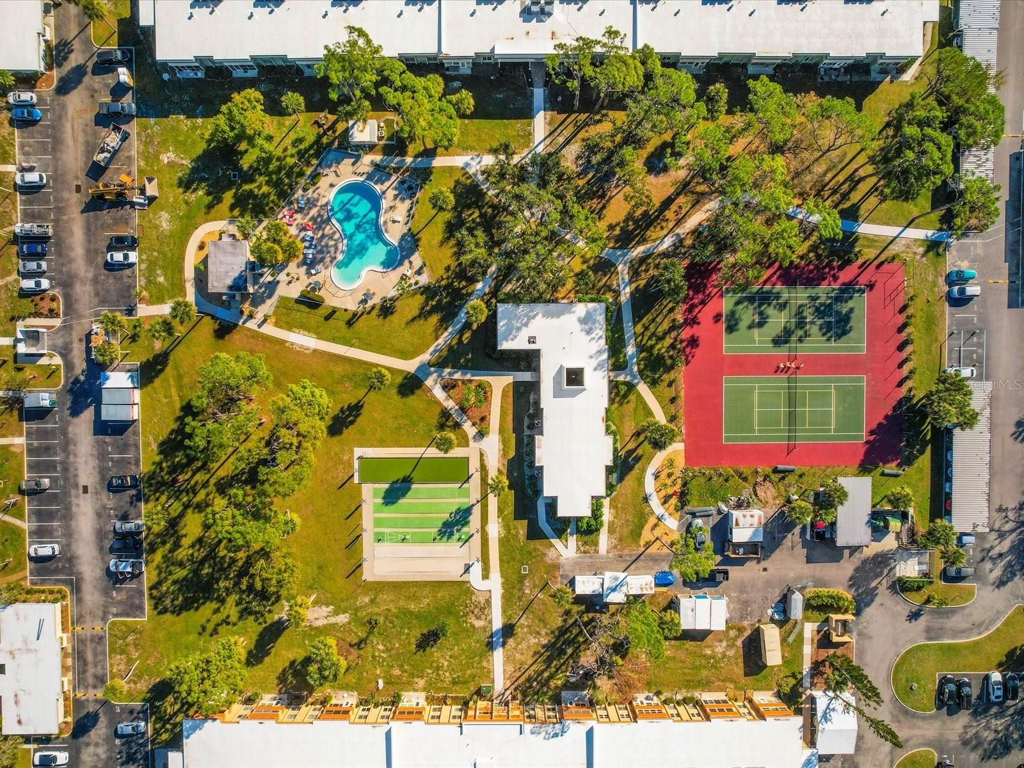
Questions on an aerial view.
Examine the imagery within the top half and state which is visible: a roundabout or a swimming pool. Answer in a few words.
swimming pool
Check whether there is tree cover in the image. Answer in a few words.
Yes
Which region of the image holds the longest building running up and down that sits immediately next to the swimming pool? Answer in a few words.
center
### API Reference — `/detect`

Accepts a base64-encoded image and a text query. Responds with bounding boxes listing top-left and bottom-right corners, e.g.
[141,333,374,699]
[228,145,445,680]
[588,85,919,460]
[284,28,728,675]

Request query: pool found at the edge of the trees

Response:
[225,150,429,323]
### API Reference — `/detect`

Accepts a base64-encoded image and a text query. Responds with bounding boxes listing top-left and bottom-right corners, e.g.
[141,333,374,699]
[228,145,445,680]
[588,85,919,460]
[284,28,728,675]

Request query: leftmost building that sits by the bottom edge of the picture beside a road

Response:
[0,599,72,734]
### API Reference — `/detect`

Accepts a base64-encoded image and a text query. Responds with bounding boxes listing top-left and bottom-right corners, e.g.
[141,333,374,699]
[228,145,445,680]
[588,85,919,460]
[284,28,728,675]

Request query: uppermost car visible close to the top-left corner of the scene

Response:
[97,48,130,65]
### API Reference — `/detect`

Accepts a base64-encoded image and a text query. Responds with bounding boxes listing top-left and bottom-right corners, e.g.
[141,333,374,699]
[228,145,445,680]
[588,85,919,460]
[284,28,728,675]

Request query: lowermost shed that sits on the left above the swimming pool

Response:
[349,120,379,148]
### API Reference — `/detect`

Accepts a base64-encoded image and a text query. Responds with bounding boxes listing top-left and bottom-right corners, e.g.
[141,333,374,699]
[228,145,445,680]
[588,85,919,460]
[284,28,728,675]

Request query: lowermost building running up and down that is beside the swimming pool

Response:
[496,302,614,517]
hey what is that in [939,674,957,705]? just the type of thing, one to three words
car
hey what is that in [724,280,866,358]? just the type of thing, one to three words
tennis court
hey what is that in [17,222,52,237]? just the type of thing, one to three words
vehicle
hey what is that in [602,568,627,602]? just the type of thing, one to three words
shed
